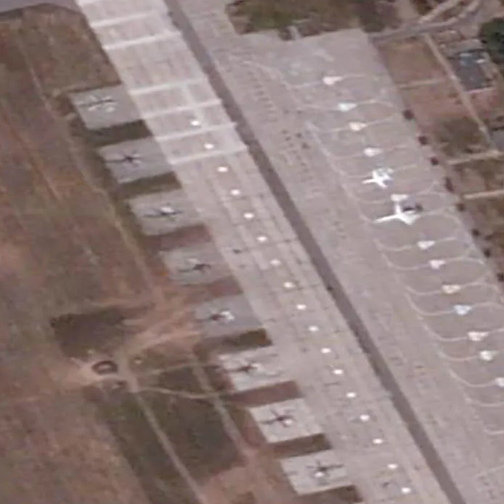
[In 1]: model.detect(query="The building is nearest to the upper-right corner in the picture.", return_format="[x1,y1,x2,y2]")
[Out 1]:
[450,49,492,94]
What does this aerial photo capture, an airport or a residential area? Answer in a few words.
airport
